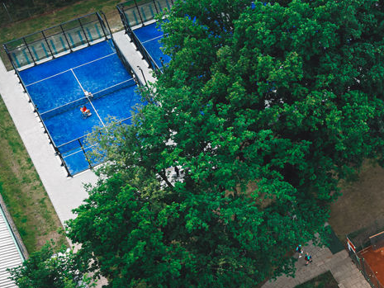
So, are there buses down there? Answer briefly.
No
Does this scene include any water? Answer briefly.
No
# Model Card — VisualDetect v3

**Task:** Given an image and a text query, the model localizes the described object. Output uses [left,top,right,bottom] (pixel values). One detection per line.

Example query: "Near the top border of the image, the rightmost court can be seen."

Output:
[123,0,214,101]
